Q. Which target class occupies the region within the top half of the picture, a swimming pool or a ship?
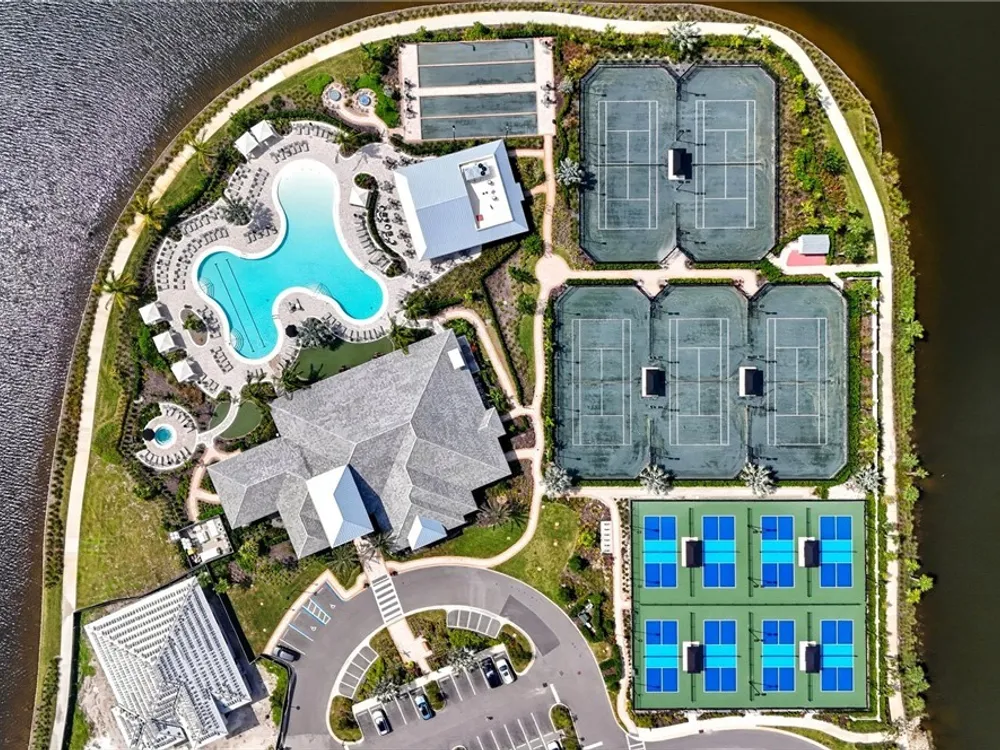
swimming pool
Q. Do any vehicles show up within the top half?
No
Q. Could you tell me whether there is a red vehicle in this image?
No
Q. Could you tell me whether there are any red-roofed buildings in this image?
No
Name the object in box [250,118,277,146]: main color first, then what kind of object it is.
white tent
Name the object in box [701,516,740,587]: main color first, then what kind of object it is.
blue sports court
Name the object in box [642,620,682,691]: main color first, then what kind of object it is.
blue sports court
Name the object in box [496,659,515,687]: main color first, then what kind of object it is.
white car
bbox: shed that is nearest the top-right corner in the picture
[798,235,830,254]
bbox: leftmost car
[273,646,299,664]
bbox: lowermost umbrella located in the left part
[143,428,156,440]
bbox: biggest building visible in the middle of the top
[394,140,528,260]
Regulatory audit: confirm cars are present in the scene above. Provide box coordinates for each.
[373,710,391,737]
[414,696,433,722]
[273,646,299,664]
[496,659,515,687]
[480,659,501,688]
